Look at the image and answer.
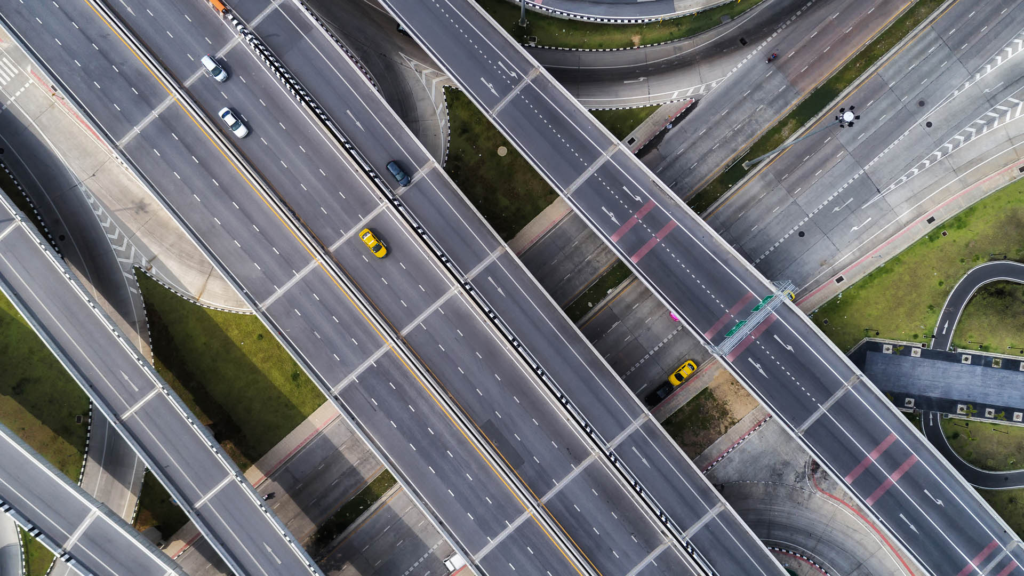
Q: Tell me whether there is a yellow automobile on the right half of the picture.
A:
Yes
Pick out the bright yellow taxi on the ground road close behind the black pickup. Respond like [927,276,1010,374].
[667,358,699,387]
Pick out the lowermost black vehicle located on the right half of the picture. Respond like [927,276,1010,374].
[643,383,676,411]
